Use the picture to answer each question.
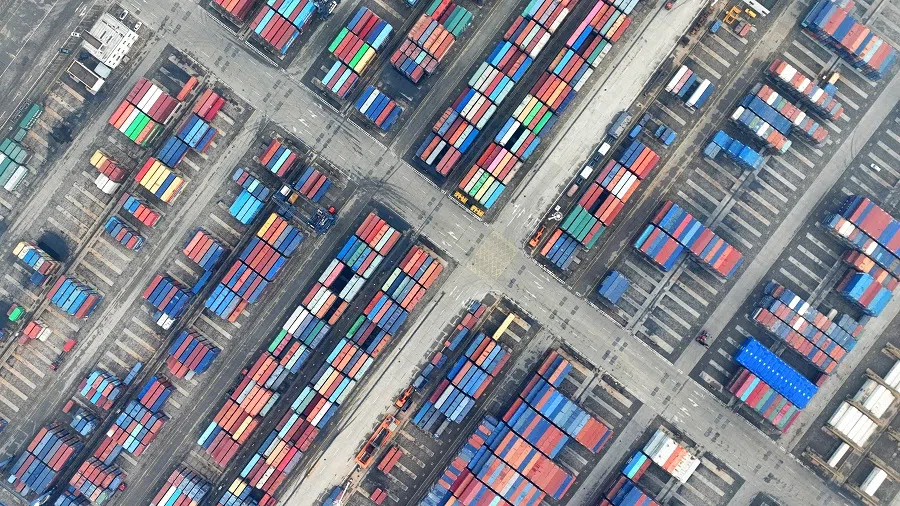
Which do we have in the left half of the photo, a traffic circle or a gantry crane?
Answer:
gantry crane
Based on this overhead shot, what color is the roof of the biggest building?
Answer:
white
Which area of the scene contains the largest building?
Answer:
top left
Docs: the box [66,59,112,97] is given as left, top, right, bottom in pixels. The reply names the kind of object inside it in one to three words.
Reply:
building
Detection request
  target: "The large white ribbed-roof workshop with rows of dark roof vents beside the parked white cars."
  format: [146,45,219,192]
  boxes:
[81,12,142,71]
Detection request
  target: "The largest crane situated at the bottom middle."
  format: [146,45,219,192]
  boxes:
[352,411,398,467]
